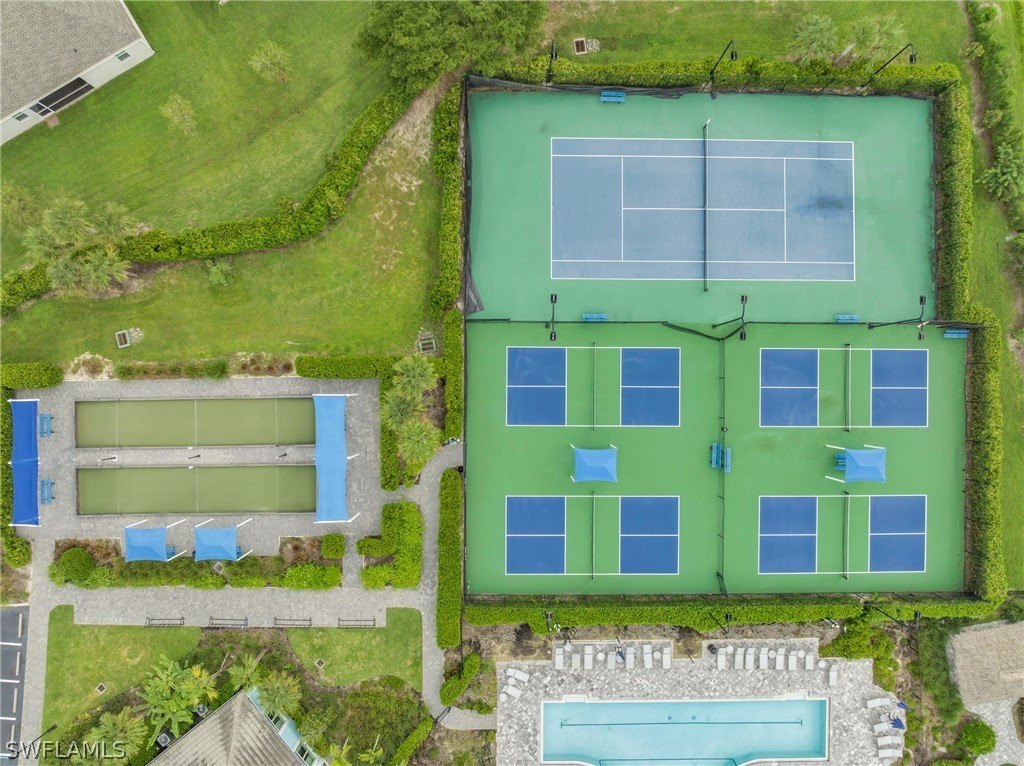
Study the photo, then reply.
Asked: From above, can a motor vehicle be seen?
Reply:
No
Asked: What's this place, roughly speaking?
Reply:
sports ground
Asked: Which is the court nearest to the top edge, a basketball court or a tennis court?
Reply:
tennis court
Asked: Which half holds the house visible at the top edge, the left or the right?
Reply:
left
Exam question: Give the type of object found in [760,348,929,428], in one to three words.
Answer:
sports court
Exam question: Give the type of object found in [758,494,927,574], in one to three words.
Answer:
sports court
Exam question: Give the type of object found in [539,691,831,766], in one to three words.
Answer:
swimming pool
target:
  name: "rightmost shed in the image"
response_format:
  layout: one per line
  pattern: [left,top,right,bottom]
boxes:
[943,616,1024,710]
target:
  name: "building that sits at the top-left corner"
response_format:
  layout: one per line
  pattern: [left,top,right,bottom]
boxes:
[0,0,154,143]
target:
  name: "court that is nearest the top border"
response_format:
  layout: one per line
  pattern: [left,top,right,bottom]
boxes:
[466,88,937,323]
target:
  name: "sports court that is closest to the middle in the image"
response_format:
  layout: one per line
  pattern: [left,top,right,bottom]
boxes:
[506,347,681,428]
